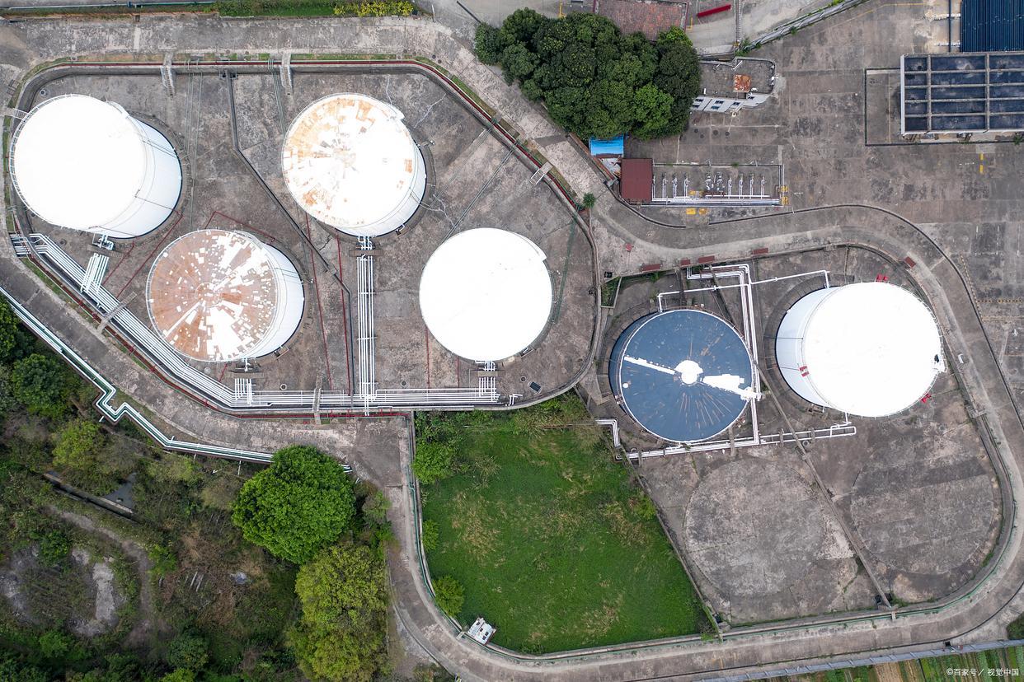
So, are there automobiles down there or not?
No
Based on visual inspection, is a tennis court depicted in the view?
No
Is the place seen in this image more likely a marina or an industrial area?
industrial area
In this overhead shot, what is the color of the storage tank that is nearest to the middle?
white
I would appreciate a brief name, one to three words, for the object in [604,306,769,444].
storage tank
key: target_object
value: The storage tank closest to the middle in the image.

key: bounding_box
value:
[417,226,555,365]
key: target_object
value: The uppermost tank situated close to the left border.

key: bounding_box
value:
[6,92,187,252]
